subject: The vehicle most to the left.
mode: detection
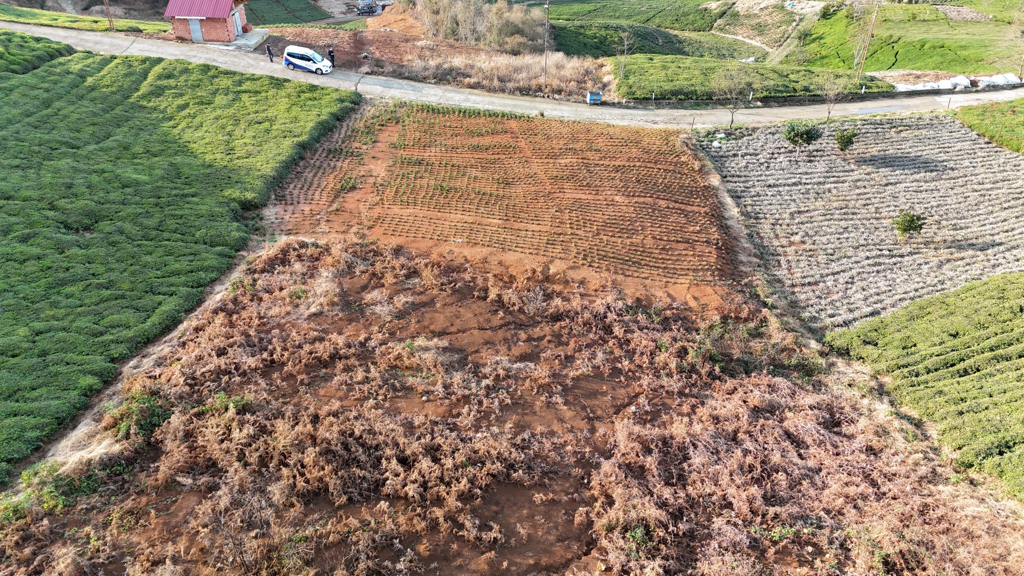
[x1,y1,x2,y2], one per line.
[281,41,336,73]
